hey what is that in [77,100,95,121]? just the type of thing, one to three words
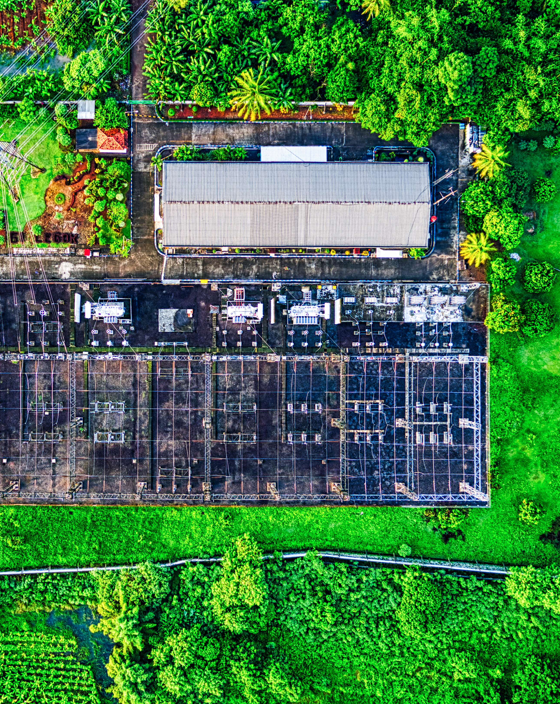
shed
